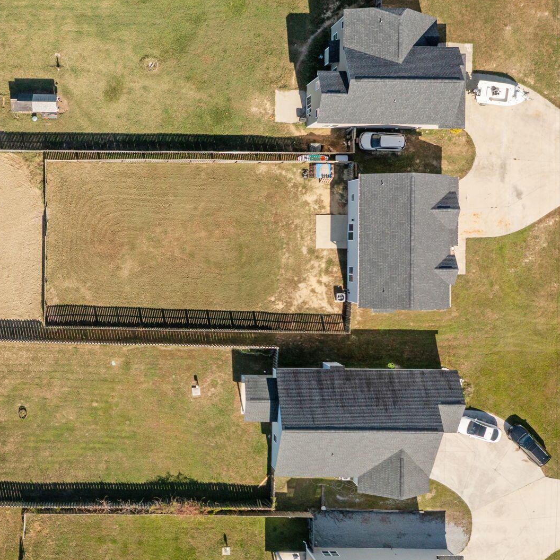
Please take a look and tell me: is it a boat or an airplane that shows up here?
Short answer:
boat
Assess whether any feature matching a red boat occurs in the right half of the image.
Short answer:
No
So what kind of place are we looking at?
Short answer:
residential area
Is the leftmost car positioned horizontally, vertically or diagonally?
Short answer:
horizontally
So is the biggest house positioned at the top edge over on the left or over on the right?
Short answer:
right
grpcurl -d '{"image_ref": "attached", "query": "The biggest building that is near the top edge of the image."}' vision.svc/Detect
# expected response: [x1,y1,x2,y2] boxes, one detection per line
[305,7,466,130]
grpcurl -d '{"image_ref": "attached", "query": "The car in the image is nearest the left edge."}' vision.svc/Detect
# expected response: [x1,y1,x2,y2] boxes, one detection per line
[358,129,406,152]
